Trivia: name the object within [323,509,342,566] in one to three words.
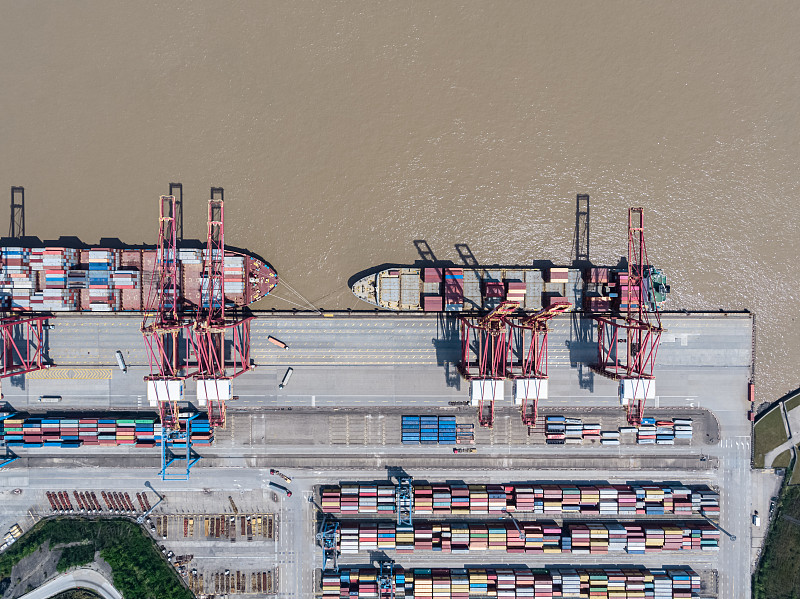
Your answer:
container crane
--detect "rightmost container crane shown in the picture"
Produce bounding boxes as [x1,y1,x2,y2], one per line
[582,208,668,426]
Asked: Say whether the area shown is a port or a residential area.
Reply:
port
